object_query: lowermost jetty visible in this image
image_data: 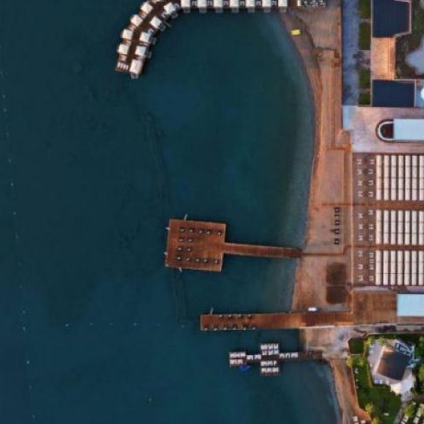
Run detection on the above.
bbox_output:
[229,343,322,375]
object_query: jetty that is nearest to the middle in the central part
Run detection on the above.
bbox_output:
[165,219,302,272]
